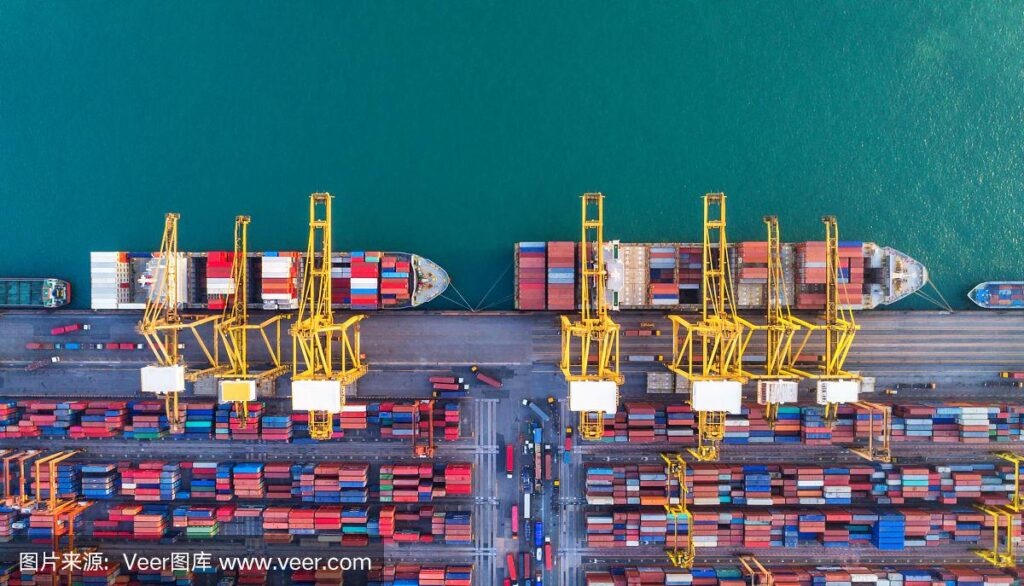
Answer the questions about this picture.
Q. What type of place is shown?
port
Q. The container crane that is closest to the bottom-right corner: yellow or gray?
yellow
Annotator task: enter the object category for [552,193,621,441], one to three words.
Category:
container crane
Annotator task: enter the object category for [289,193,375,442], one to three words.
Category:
container crane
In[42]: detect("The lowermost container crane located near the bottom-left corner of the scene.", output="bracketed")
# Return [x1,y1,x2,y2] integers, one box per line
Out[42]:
[53,501,98,570]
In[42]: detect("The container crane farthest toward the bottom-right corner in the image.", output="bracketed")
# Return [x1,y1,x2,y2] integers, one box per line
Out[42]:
[965,500,1014,570]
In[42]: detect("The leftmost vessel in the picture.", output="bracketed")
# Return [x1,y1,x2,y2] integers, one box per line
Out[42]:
[0,277,74,308]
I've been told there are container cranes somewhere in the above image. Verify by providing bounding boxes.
[552,193,621,441]
[140,212,234,429]
[289,193,375,442]
[779,214,862,428]
[986,451,1024,516]
[657,451,686,517]
[53,501,98,570]
[4,452,51,518]
[213,214,296,422]
[659,193,745,441]
[965,500,1014,570]
[414,399,439,463]
[849,399,890,462]
[689,400,720,462]
[35,452,81,518]
[725,214,802,428]
[663,503,692,569]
